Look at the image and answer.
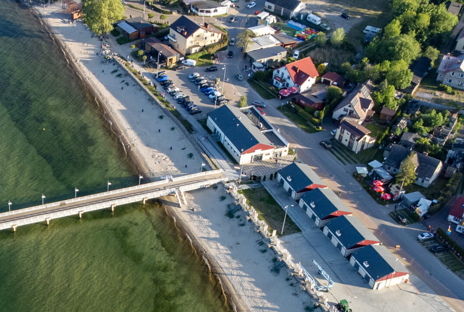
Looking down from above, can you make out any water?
Yes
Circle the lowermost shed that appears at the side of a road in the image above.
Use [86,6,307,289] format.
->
[349,245,410,288]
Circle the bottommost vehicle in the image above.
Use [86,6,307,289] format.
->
[336,299,353,312]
